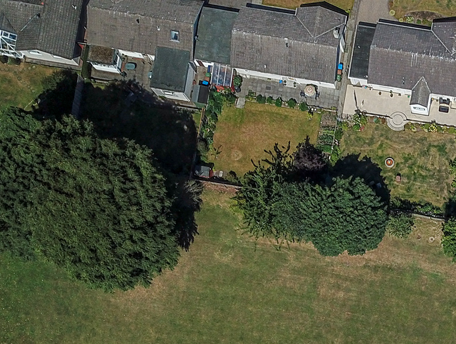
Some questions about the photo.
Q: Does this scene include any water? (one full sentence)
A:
No, the scene doesn't show any water.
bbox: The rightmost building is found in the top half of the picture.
[367,17,456,112]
